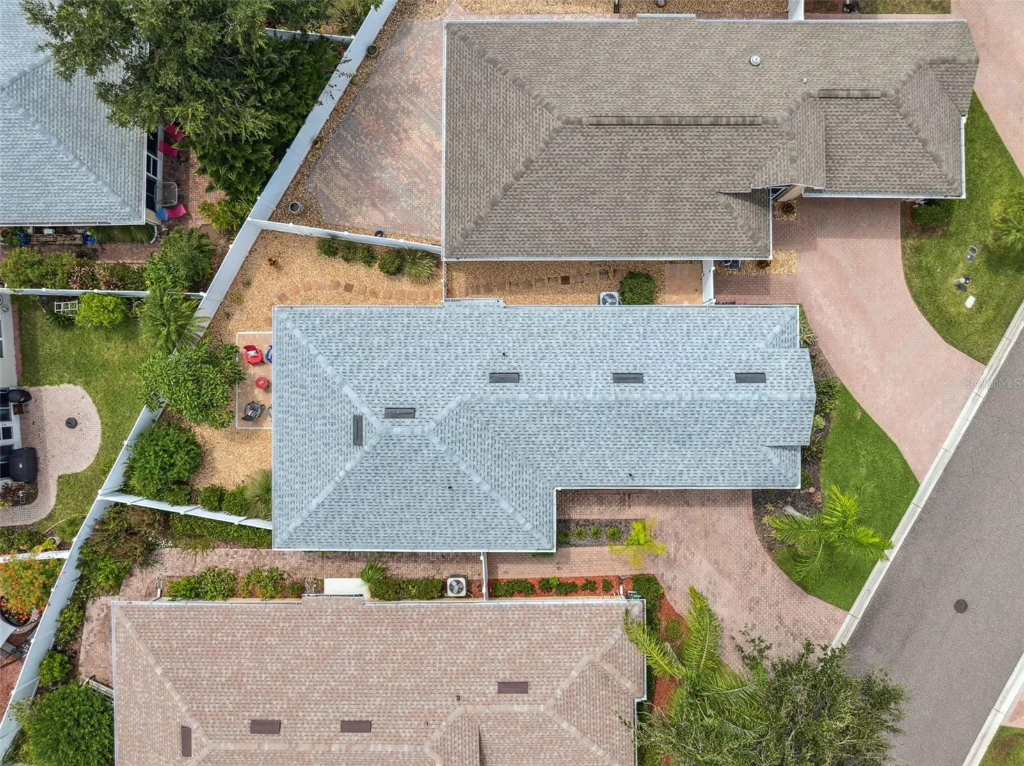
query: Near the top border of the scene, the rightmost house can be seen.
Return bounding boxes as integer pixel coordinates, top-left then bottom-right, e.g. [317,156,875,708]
[443,14,981,259]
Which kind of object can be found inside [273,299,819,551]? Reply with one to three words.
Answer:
house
